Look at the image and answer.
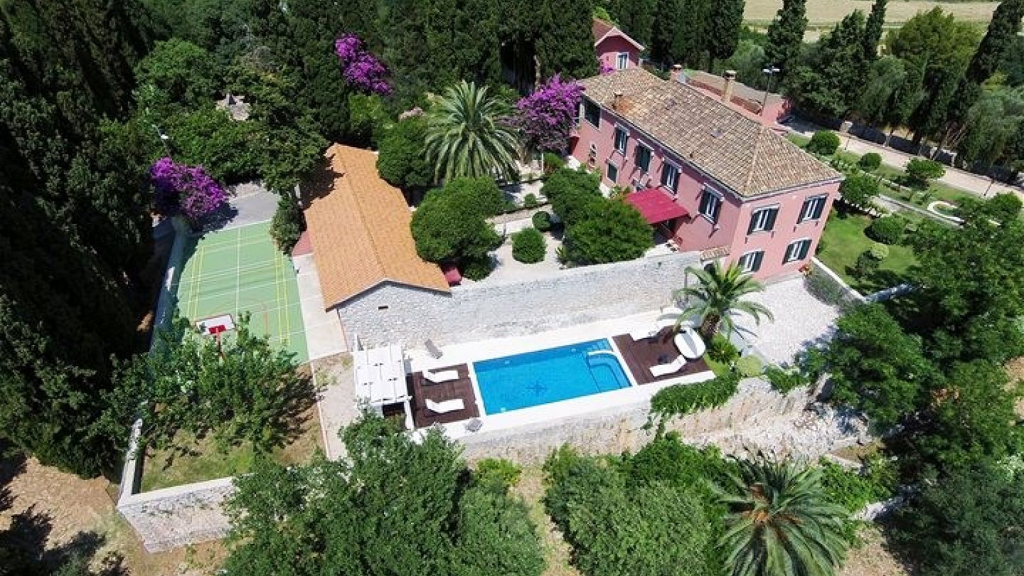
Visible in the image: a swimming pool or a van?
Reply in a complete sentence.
There is a swimming pool in the scene.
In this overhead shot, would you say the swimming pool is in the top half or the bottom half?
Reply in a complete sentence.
The swimming pool is in the bottom half of the image.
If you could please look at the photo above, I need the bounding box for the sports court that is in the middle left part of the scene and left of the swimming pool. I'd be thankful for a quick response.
[143,220,306,388]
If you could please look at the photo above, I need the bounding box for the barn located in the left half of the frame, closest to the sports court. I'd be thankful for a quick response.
[300,139,452,353]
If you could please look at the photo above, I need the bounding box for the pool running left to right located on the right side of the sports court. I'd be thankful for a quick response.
[467,333,639,420]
